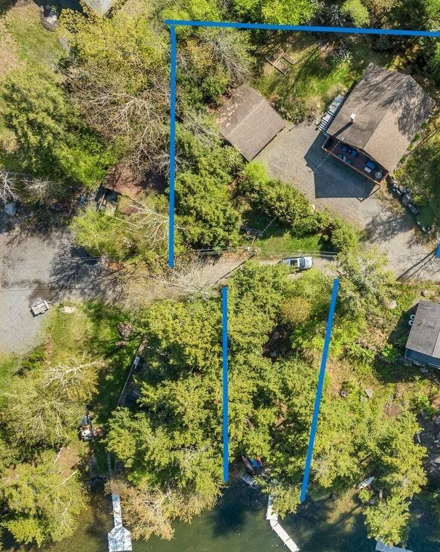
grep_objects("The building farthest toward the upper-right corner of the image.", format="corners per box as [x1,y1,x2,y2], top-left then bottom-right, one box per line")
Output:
[323,62,435,187]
